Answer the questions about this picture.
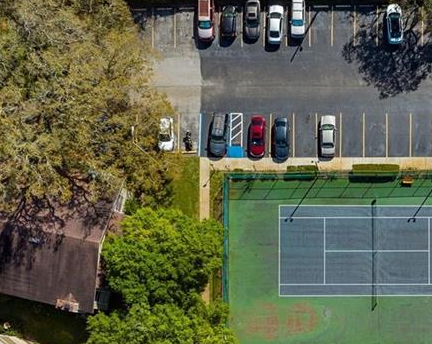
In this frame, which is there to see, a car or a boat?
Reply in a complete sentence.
It is a car that can be seen here.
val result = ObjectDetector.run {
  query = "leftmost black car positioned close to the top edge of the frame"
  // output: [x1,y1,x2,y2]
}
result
[219,4,237,42]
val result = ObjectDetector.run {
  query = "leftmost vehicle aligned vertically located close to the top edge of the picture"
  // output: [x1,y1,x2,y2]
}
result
[196,0,216,43]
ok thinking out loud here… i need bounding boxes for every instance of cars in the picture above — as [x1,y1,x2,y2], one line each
[271,117,290,161]
[242,0,261,41]
[318,115,337,158]
[248,116,267,158]
[208,112,228,158]
[266,5,284,46]
[385,3,402,46]
[156,117,175,153]
[288,0,307,40]
[219,4,237,42]
[196,0,216,43]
